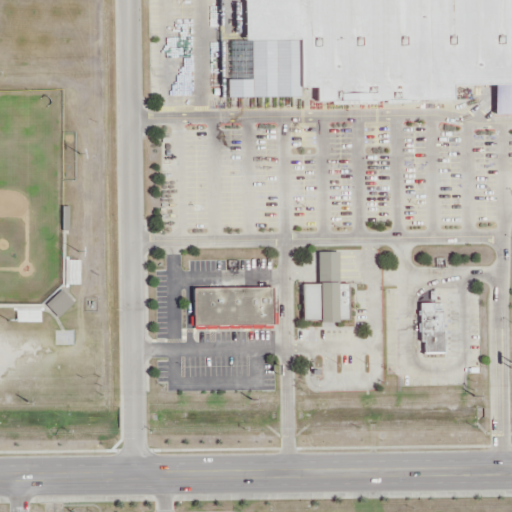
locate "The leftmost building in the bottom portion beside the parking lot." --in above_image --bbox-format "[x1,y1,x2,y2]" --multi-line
[191,286,278,332]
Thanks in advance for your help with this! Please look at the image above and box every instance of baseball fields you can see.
[0,90,62,303]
